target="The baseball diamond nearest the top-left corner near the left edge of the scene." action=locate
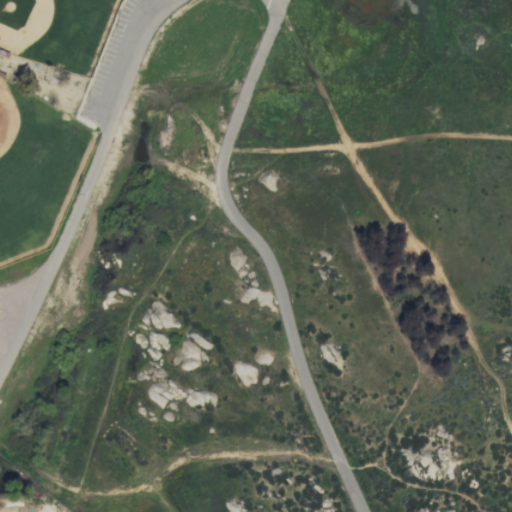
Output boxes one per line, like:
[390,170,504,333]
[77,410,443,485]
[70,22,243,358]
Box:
[0,0,122,76]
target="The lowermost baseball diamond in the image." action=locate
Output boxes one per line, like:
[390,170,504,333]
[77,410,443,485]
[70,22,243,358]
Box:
[0,78,98,266]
